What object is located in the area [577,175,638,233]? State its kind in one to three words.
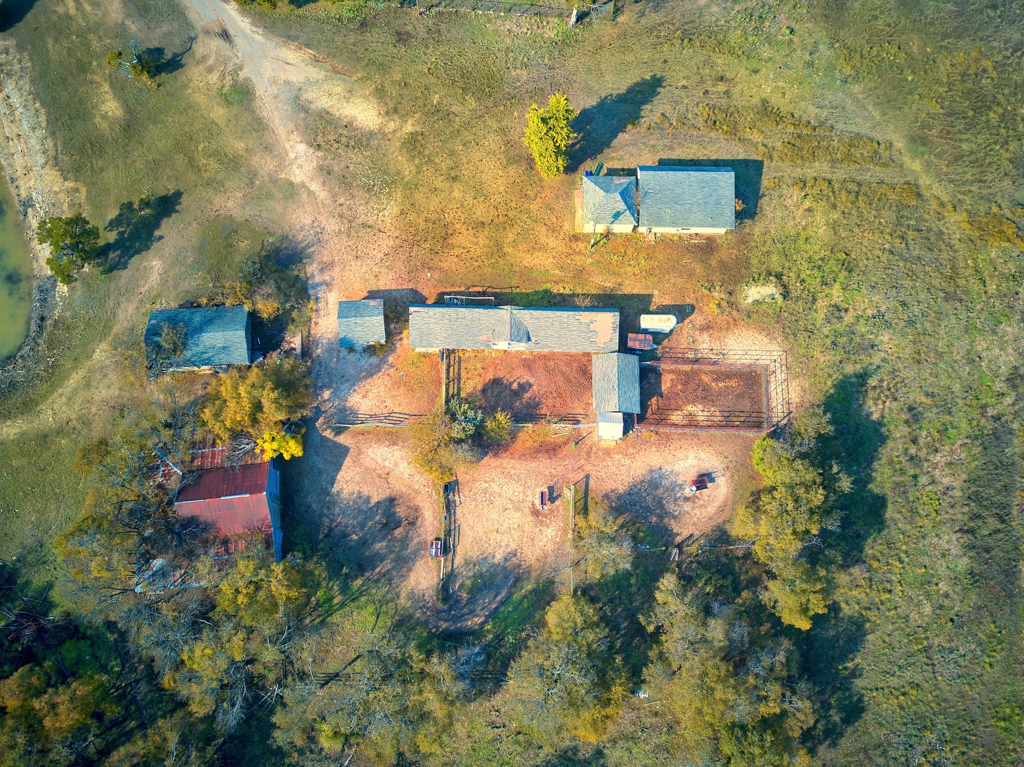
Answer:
house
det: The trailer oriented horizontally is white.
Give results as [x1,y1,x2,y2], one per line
[637,316,681,336]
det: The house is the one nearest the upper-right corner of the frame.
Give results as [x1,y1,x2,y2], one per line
[636,166,738,247]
